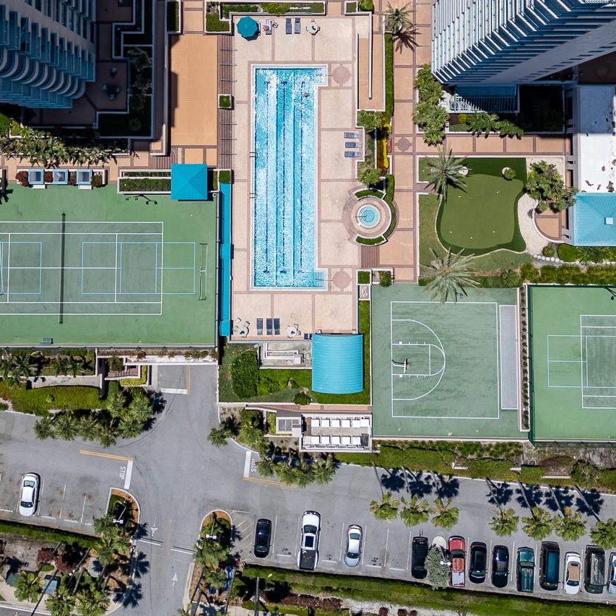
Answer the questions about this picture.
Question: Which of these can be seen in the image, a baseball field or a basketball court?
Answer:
basketball court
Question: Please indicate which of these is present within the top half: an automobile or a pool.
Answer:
pool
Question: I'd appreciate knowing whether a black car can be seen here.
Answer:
Yes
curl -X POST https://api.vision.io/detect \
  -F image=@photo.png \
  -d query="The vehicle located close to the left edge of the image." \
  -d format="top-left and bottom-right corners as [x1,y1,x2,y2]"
[18,473,41,514]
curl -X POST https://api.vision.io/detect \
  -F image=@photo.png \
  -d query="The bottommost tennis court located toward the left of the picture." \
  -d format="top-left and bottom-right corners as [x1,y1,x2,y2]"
[0,186,214,345]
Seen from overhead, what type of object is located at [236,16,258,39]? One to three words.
umbrella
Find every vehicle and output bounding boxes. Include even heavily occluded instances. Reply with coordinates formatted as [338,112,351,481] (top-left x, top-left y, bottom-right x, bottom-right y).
[468,540,487,582]
[447,533,466,584]
[491,544,510,586]
[300,513,319,565]
[514,542,535,593]
[562,552,581,591]
[253,516,272,557]
[583,544,604,589]
[410,535,429,577]
[343,522,362,565]
[18,473,41,514]
[539,542,558,586]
